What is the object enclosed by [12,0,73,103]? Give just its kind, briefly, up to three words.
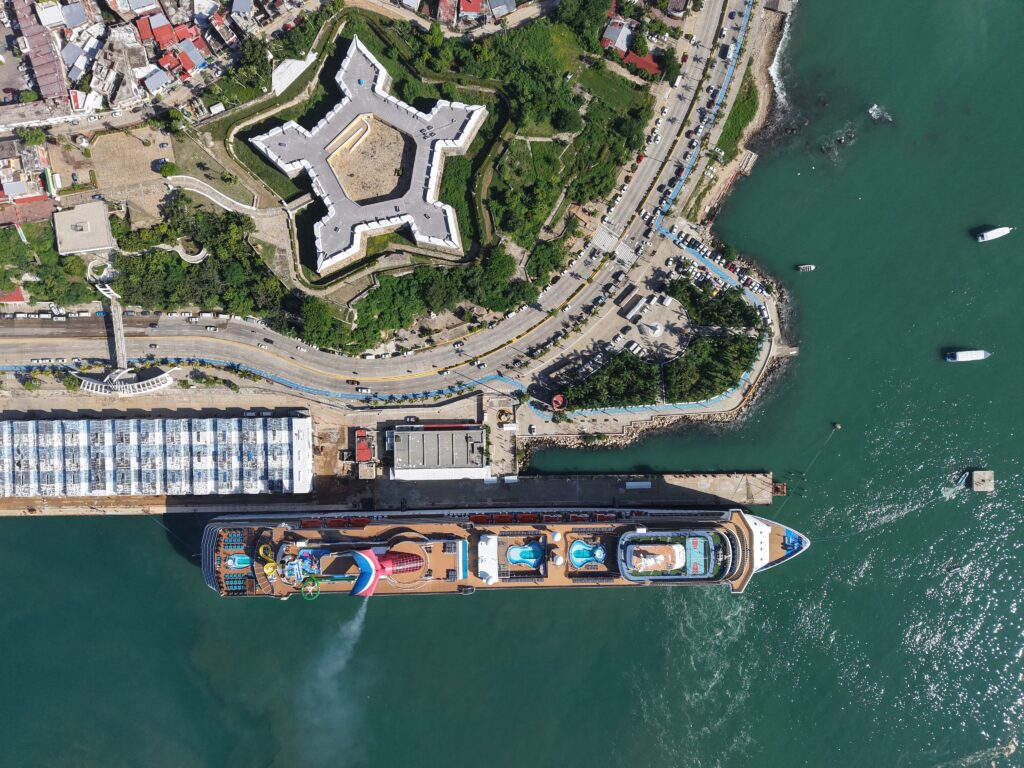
house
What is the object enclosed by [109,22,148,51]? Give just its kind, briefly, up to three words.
house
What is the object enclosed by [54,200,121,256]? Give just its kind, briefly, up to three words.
building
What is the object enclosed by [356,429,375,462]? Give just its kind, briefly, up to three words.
shed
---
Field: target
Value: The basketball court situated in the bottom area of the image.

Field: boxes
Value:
[685,536,706,576]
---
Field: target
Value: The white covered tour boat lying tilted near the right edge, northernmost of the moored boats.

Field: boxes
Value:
[976,226,1014,244]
